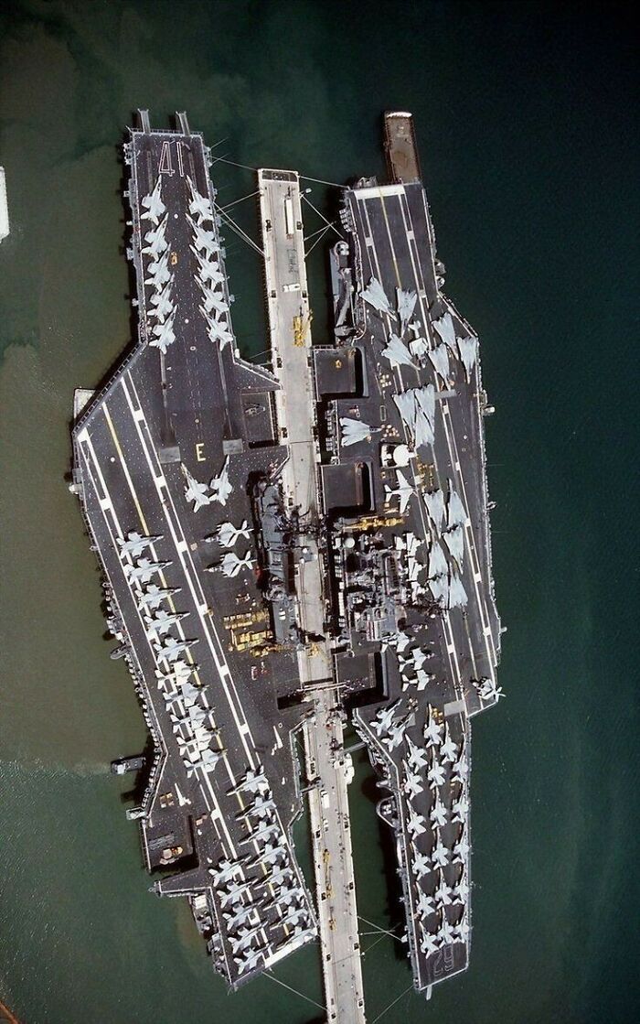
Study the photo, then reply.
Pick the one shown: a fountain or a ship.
ship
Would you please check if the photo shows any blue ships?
No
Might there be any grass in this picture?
No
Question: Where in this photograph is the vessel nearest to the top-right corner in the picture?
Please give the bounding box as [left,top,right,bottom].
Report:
[384,111,423,187]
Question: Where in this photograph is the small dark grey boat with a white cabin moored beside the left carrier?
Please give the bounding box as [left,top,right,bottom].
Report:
[111,755,146,774]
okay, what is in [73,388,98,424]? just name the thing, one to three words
ship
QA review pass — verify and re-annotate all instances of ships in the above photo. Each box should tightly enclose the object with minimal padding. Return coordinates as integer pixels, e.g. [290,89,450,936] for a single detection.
[73,388,98,424]
[68,107,324,994]
[384,111,423,187]
[313,175,507,998]
[0,167,12,240]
